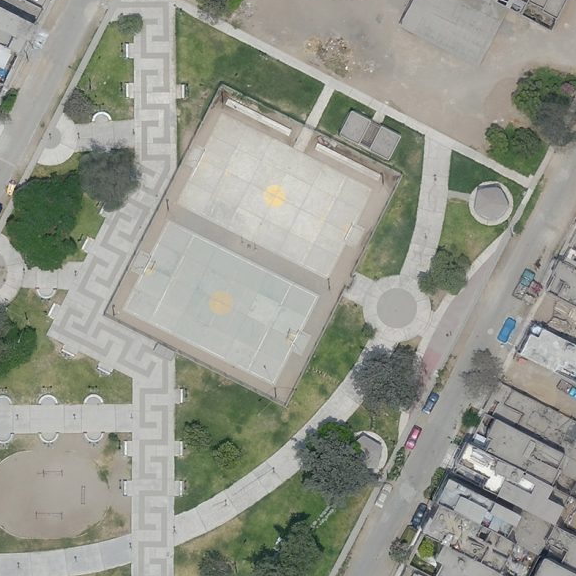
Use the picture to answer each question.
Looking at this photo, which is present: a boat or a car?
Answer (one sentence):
The image shows a car.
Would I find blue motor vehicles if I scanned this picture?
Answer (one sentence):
Yes, a blue motor vehicle appears in the view.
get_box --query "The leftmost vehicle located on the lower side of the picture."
[373,481,393,509]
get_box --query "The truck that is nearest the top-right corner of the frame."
[511,267,536,301]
